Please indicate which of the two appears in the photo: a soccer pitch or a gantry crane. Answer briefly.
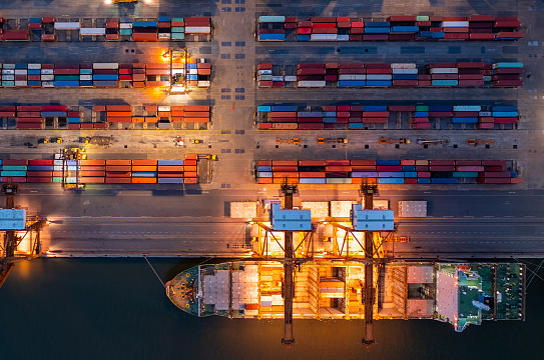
gantry crane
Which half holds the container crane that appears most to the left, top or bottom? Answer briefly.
bottom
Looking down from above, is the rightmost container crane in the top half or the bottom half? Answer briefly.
bottom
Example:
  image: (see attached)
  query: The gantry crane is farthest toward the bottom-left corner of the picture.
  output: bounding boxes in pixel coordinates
[0,176,49,297]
